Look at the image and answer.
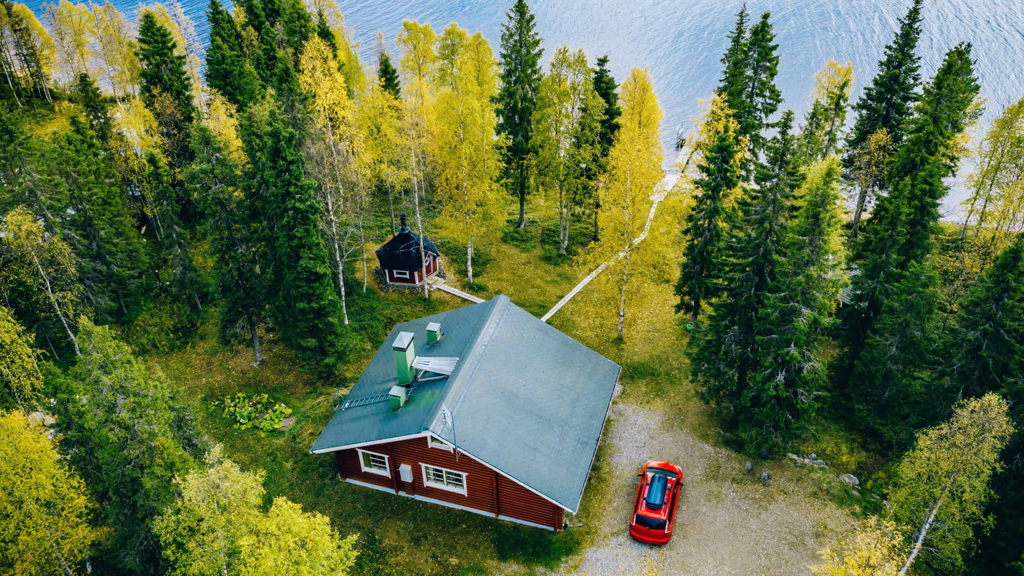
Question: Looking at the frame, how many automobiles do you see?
1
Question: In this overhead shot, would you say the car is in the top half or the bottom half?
bottom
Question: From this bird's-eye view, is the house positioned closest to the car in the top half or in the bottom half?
bottom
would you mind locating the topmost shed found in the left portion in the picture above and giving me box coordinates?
[376,213,441,287]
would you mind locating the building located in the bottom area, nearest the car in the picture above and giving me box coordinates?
[308,296,622,535]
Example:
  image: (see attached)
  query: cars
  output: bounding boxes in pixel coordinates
[630,461,683,546]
